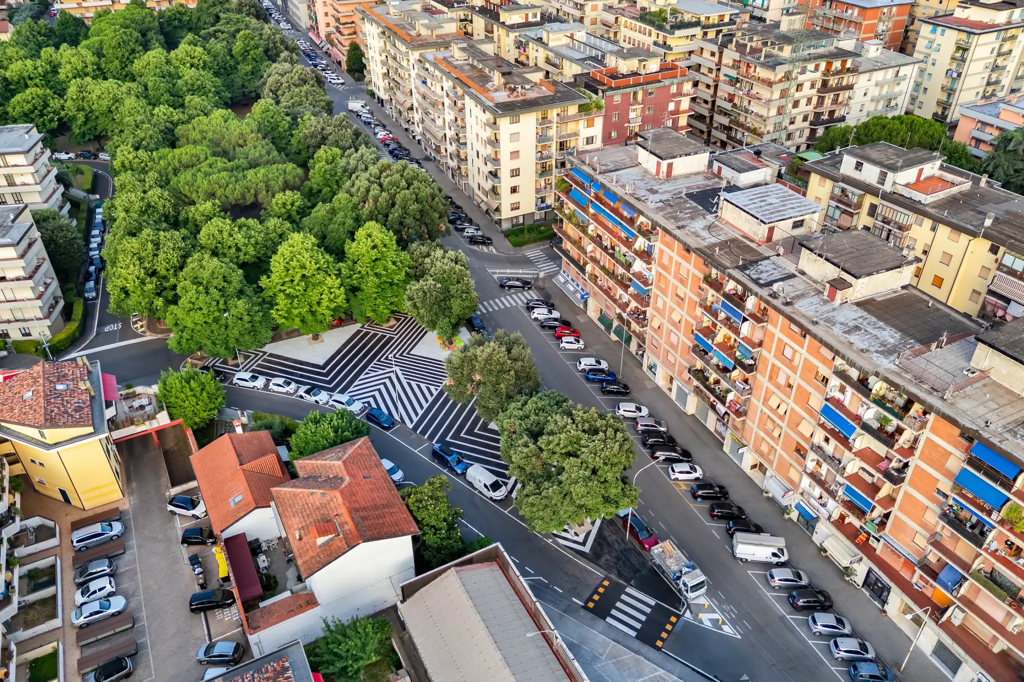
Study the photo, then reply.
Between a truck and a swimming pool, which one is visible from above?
truck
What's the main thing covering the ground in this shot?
buildings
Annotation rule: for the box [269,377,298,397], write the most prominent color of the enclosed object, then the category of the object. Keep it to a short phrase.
white car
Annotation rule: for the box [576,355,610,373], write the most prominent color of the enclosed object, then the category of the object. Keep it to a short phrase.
white car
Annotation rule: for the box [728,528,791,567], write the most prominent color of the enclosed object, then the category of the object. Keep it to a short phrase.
white van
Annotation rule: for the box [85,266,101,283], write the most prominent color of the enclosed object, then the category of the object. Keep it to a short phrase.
black car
